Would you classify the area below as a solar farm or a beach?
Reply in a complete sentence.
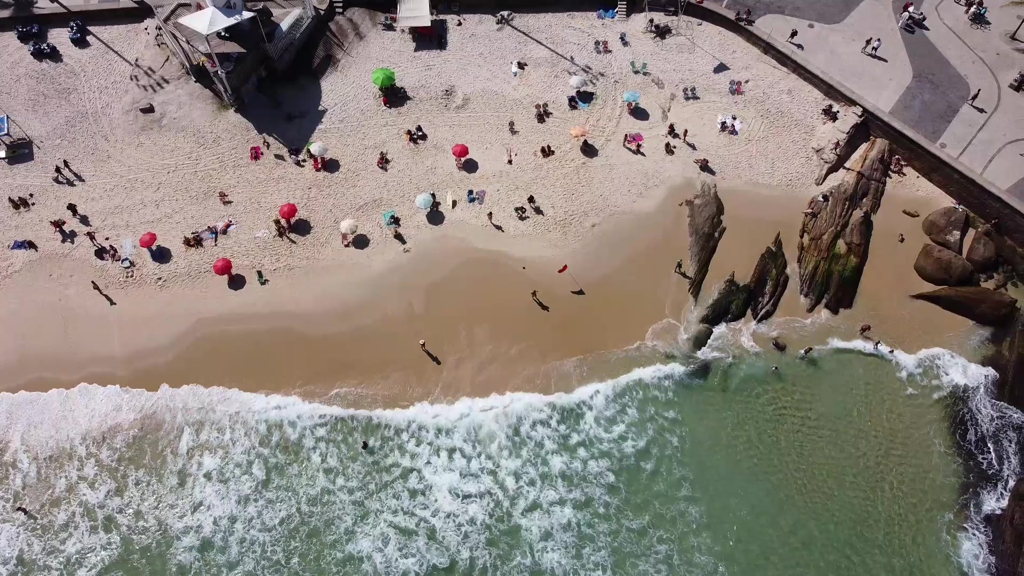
The picture captures a beach.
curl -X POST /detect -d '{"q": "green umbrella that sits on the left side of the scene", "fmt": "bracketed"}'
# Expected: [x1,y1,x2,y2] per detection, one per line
[372,72,396,91]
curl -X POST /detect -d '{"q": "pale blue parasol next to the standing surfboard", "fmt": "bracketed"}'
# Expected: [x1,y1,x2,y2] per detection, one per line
[415,196,434,213]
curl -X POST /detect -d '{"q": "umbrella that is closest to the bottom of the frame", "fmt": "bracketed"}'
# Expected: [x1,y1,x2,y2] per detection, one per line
[213,259,235,278]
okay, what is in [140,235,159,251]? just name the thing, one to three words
umbrella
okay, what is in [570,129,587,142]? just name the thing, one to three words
umbrella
